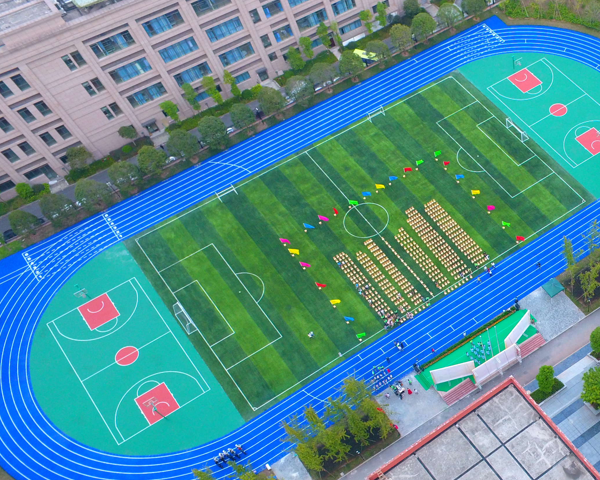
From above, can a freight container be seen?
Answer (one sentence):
No, I find no freight container anywhere in the image.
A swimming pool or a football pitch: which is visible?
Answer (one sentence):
Visible in the photo is a football pitch.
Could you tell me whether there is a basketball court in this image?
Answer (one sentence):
Yes, the photo shows a basketball court.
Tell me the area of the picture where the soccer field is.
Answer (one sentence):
Look in the center portion of the view to spot the soccer field.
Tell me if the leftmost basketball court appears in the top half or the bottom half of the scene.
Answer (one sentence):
The leftmost basketball court is in the bottom half of the image.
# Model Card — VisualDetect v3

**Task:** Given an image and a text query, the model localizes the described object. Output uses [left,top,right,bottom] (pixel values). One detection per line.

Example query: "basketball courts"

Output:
[31,241,245,453]
[457,53,600,200]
